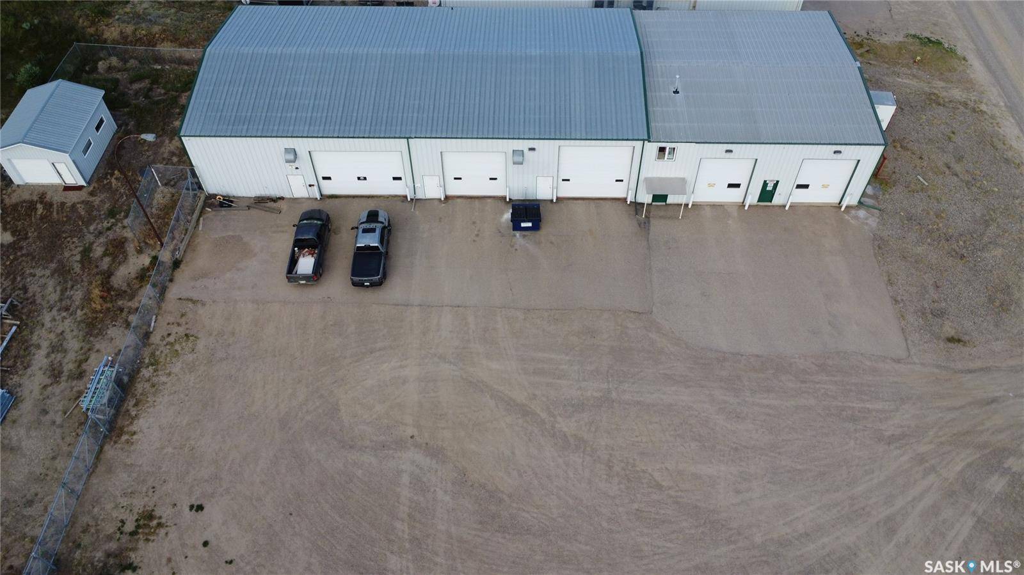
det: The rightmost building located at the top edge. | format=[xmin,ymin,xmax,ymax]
[633,8,889,217]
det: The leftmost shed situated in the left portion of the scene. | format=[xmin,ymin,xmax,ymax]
[0,83,116,191]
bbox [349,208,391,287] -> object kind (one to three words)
truck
